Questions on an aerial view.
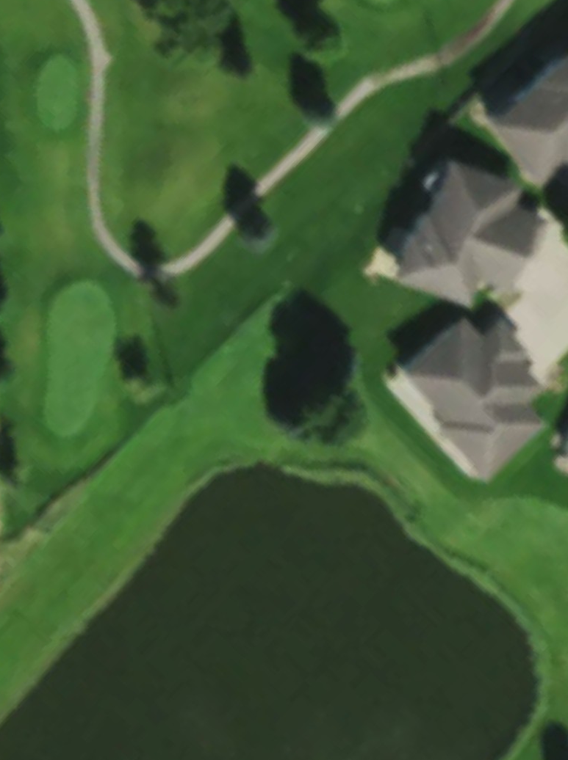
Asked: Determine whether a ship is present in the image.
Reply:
No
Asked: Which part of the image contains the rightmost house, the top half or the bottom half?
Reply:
top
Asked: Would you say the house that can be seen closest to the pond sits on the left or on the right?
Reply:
right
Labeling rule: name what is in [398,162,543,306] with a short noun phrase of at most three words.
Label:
house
